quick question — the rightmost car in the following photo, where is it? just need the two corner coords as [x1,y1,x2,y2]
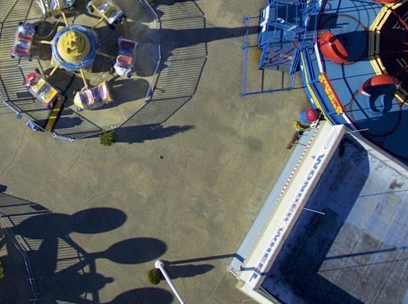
[114,41,137,75]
